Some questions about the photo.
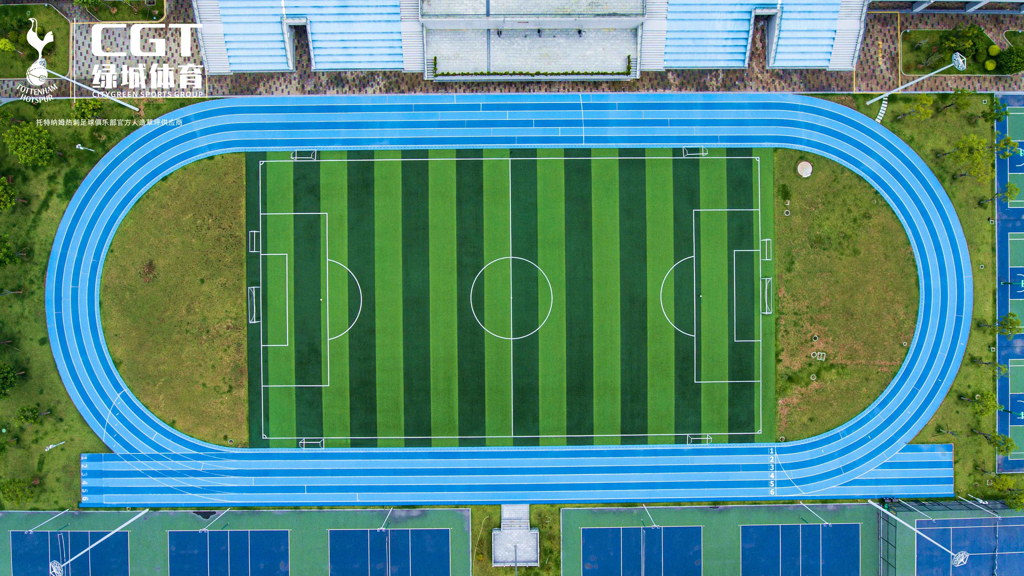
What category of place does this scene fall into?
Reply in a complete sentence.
This looks like a sports ground.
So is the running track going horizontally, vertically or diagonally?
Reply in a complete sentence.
The running track is oriented horizontally.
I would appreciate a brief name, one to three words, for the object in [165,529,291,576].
sports court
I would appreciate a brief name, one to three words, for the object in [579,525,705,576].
sports court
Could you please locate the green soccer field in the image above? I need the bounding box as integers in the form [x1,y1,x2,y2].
[245,148,776,447]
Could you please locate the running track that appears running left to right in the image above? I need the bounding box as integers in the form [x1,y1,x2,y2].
[45,93,974,508]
